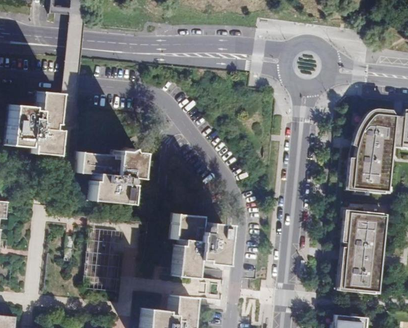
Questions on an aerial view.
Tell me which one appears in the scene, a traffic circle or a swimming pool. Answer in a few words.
traffic circle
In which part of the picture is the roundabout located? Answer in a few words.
top right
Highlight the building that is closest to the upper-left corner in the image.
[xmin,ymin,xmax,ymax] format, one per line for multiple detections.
[4,91,67,157]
